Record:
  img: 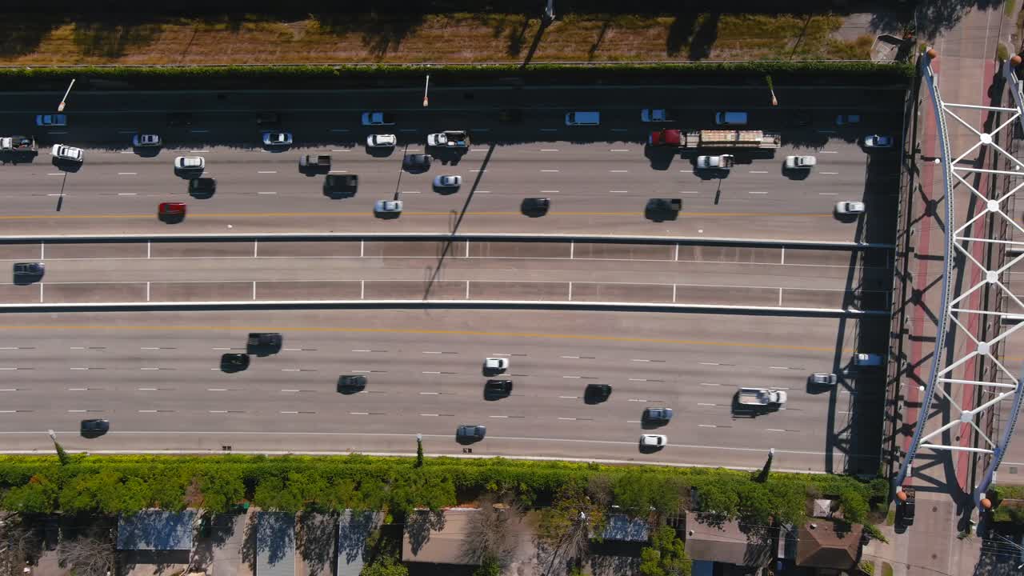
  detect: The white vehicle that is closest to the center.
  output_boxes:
[486,358,509,370]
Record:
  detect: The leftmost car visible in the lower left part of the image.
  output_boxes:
[82,419,111,432]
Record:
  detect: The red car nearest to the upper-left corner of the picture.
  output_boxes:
[160,201,188,215]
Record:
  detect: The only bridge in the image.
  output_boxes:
[880,48,1024,507]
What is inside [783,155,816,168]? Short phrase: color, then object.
white vehicle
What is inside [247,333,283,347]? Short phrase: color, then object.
black vehicle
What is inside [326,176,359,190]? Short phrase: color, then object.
black vehicle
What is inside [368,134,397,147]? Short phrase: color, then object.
white vehicle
